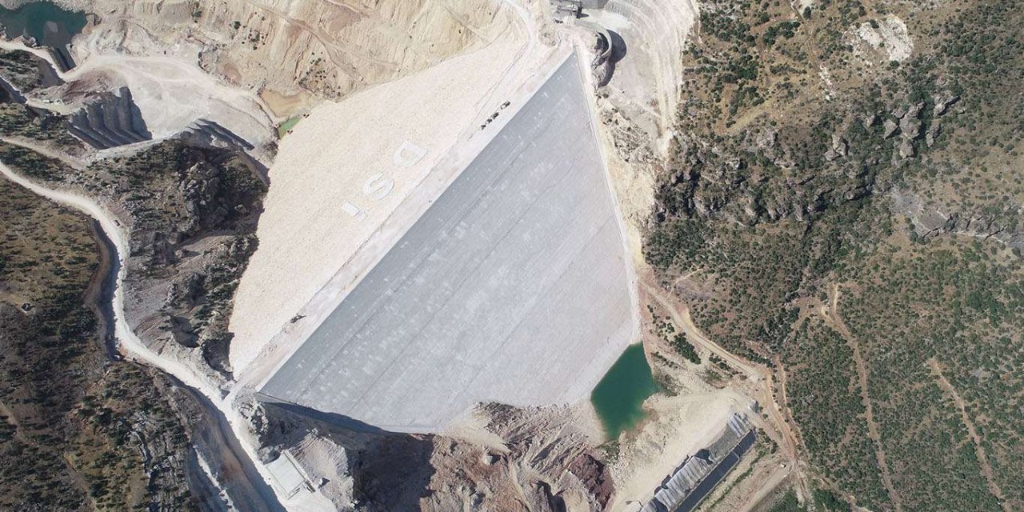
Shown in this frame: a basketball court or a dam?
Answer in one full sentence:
Visible in the photo is a dam.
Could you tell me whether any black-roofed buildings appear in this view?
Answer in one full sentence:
No, this view has no black-roofed building in it.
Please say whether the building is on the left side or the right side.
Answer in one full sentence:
The building sits on the left side.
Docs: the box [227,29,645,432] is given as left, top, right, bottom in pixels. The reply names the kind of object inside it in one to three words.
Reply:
dam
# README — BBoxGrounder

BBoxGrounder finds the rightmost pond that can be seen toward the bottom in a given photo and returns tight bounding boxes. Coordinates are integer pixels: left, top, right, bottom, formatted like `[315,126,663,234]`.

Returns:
[593,335,661,441]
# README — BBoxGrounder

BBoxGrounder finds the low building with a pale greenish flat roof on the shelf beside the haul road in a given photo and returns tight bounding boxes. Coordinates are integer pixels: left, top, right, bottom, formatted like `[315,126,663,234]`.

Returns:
[264,450,318,500]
